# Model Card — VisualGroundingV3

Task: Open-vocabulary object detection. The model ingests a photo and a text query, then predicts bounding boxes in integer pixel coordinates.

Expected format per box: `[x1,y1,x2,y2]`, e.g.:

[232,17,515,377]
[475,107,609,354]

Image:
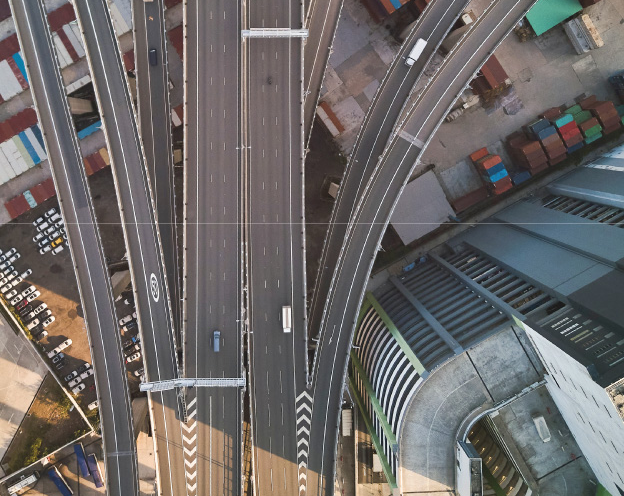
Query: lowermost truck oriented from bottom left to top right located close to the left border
[10,469,43,495]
